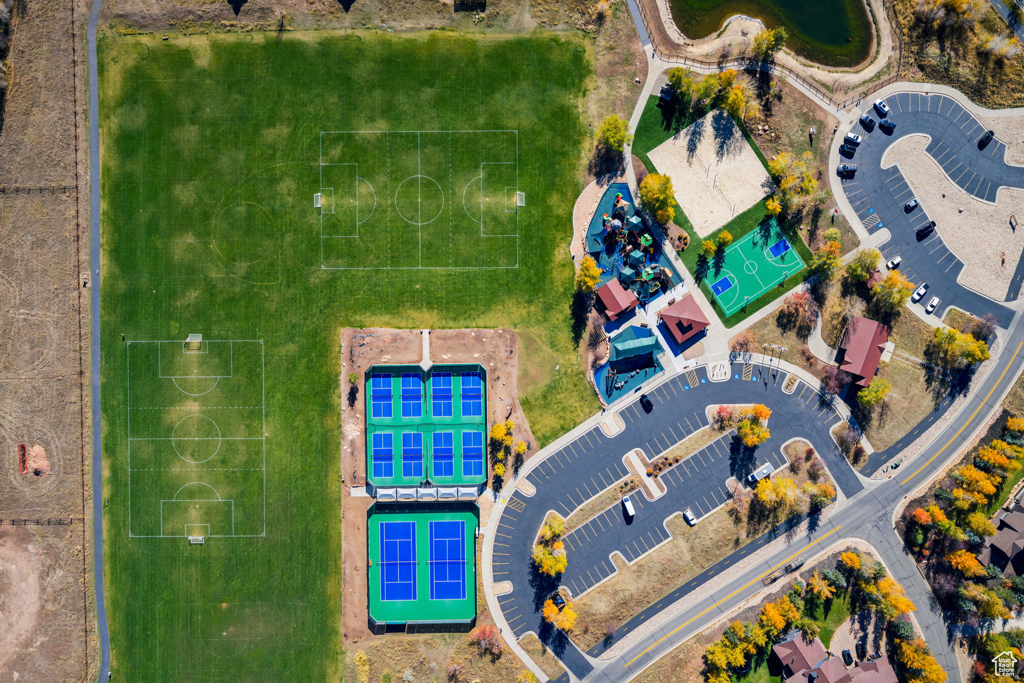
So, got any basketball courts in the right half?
Yes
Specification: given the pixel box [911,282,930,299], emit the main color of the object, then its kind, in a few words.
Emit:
white car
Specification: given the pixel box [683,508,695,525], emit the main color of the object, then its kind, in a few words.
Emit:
white vehicle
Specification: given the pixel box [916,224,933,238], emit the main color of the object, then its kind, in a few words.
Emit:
black car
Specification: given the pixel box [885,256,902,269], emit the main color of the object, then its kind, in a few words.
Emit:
white vehicle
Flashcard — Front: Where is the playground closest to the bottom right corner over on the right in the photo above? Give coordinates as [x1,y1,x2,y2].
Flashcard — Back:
[594,325,665,405]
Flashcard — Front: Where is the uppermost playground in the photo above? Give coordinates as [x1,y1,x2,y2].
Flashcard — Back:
[586,182,683,313]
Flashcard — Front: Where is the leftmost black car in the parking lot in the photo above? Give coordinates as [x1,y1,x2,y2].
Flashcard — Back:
[640,395,653,412]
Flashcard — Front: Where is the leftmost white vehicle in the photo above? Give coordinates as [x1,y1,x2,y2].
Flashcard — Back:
[621,494,636,518]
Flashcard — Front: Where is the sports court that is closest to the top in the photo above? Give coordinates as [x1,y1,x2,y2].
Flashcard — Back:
[647,106,778,238]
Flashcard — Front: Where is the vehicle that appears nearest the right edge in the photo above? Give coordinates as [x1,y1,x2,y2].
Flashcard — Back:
[978,130,993,147]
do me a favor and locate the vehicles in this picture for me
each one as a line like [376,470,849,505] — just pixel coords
[885,256,902,269]
[841,647,852,665]
[683,508,695,525]
[916,224,933,238]
[911,282,930,299]
[836,165,857,173]
[877,119,897,131]
[860,114,876,129]
[978,130,993,147]
[874,99,889,115]
[854,642,865,660]
[746,462,776,481]
[903,198,920,211]
[640,395,653,412]
[621,494,636,518]
[924,296,939,311]
[844,132,861,144]
[838,144,856,154]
